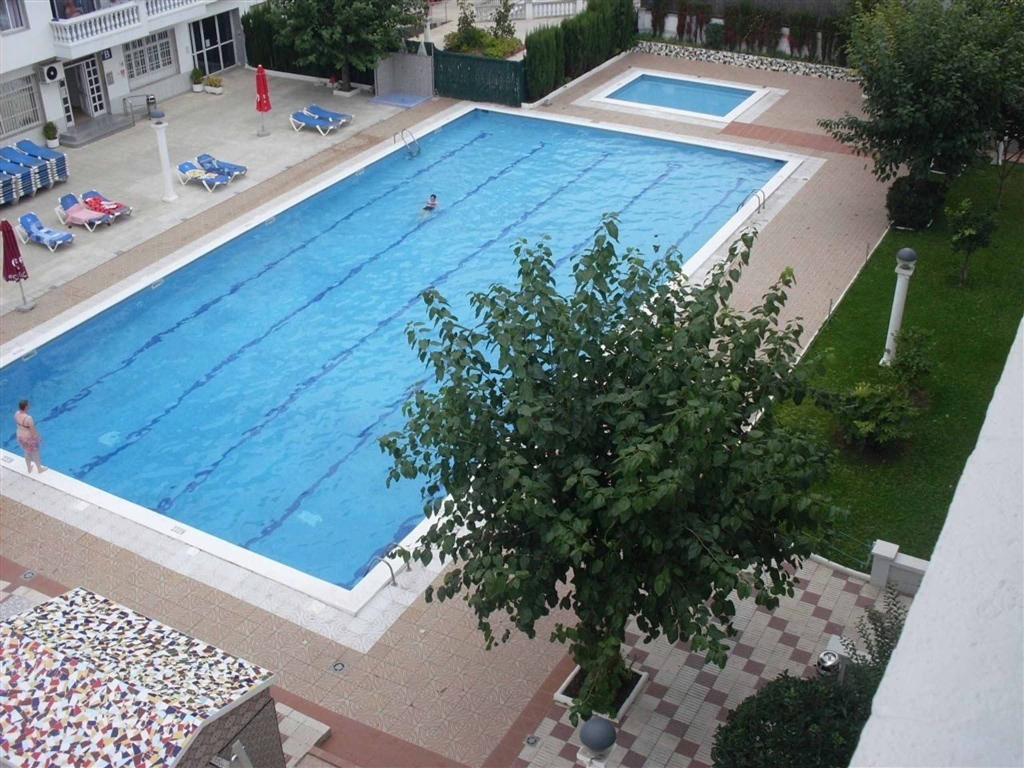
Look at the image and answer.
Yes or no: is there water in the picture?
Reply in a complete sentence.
Yes, water shows up in the scene.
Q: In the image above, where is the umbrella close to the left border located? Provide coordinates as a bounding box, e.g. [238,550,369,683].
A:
[0,218,41,313]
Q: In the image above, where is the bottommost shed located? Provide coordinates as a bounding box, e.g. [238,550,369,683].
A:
[0,585,284,768]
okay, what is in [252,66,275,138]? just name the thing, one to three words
umbrella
